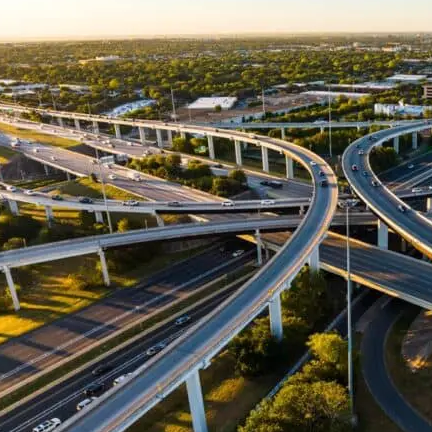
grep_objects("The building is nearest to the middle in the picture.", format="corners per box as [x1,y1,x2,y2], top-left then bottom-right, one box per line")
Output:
[184,94,242,111]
